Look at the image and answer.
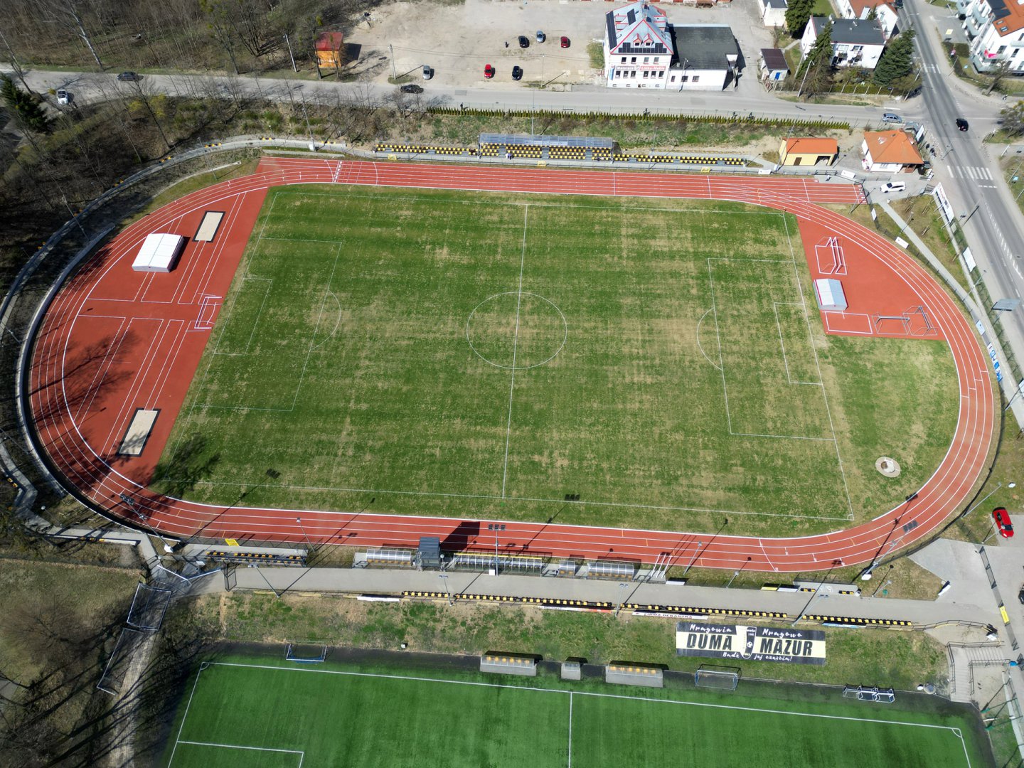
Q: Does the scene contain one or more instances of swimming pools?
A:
No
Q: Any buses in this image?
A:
No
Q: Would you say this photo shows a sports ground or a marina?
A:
sports ground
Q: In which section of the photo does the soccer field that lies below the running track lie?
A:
bottom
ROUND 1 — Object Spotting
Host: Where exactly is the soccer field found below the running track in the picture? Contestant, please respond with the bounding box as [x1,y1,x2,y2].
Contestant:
[160,655,975,768]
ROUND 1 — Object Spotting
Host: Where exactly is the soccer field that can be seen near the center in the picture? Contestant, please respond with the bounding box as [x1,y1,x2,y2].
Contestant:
[150,183,960,538]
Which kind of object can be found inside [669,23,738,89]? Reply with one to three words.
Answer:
building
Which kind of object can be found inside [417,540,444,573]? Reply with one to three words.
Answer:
building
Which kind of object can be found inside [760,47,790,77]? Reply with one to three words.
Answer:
shed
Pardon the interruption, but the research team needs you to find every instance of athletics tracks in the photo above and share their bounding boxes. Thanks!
[32,161,992,571]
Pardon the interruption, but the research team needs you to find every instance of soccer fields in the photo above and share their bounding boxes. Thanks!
[150,183,960,538]
[160,655,975,768]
